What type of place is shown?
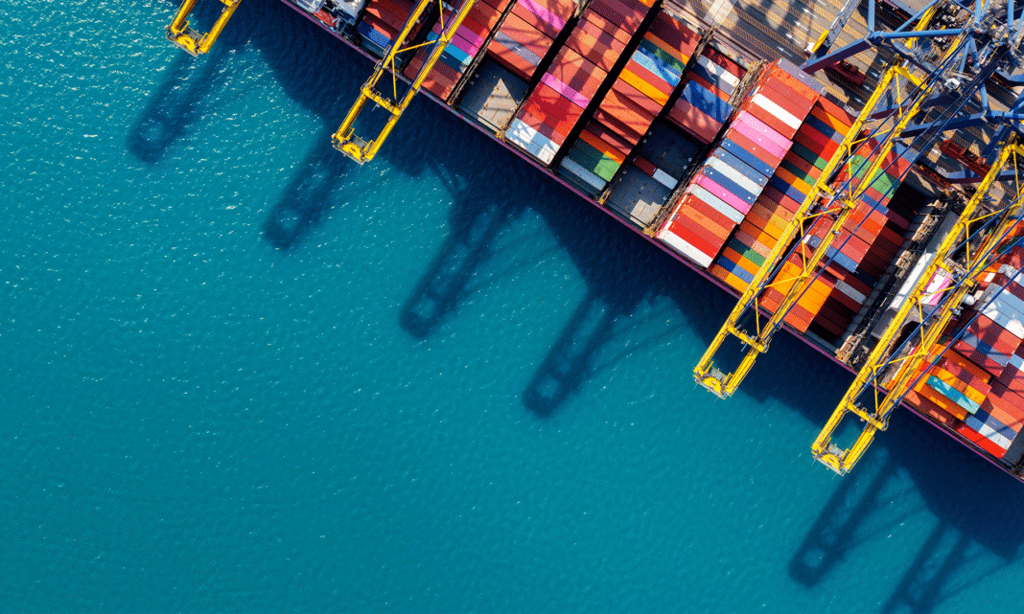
port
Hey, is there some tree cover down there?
No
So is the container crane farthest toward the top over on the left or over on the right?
left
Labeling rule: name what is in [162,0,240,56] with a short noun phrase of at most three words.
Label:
container crane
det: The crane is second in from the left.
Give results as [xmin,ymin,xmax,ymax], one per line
[327,0,471,163]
